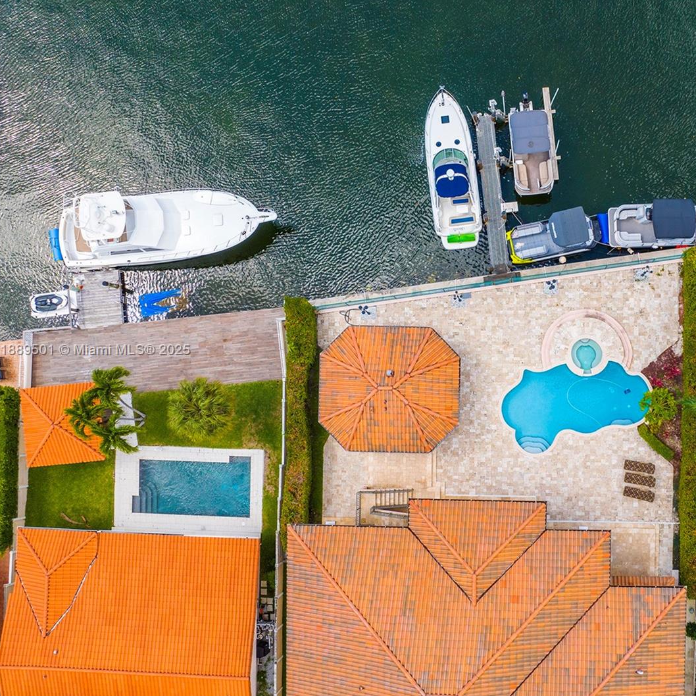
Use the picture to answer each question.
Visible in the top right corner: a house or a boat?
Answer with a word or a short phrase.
boat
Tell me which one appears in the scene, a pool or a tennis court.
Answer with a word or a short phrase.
pool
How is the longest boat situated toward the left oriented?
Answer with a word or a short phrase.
from side to side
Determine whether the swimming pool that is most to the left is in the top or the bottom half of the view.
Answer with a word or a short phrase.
bottom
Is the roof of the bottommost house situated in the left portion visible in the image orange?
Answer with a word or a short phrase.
Yes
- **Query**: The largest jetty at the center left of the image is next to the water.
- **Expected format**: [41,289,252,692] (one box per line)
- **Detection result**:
[68,267,126,328]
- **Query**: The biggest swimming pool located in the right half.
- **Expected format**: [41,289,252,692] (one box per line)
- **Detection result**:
[499,360,655,456]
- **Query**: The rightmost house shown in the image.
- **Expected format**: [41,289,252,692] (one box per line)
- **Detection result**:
[285,497,689,696]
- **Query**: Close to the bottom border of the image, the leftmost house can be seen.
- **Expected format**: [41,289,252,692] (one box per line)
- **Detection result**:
[0,525,260,696]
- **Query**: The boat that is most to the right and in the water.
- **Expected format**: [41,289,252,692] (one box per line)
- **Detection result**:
[608,199,696,248]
